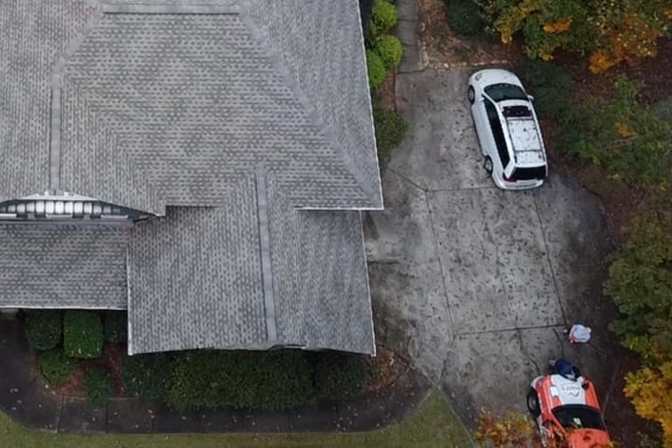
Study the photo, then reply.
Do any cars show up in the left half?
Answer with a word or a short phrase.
No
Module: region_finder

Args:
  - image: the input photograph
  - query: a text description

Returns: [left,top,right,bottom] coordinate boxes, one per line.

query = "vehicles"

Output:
[526,369,615,448]
[470,68,549,188]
